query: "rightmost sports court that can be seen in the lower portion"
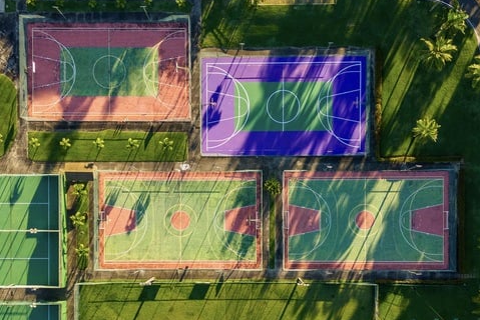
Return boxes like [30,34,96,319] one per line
[283,170,457,272]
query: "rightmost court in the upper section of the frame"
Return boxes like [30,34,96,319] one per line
[200,52,374,157]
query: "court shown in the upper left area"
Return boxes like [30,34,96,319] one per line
[19,15,193,122]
